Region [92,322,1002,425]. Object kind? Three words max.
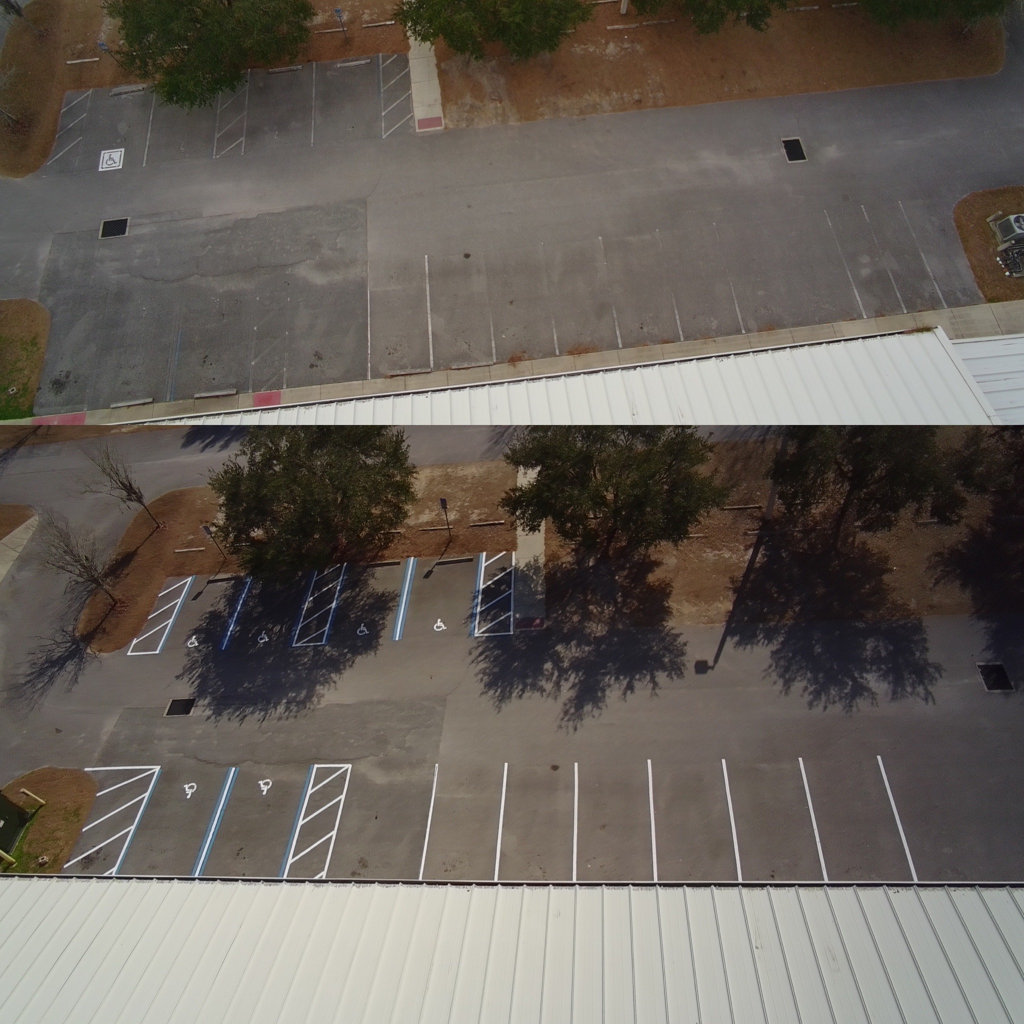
building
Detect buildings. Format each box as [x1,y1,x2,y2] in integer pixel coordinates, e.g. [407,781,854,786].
[0,873,1024,1024]
[92,322,1002,425]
